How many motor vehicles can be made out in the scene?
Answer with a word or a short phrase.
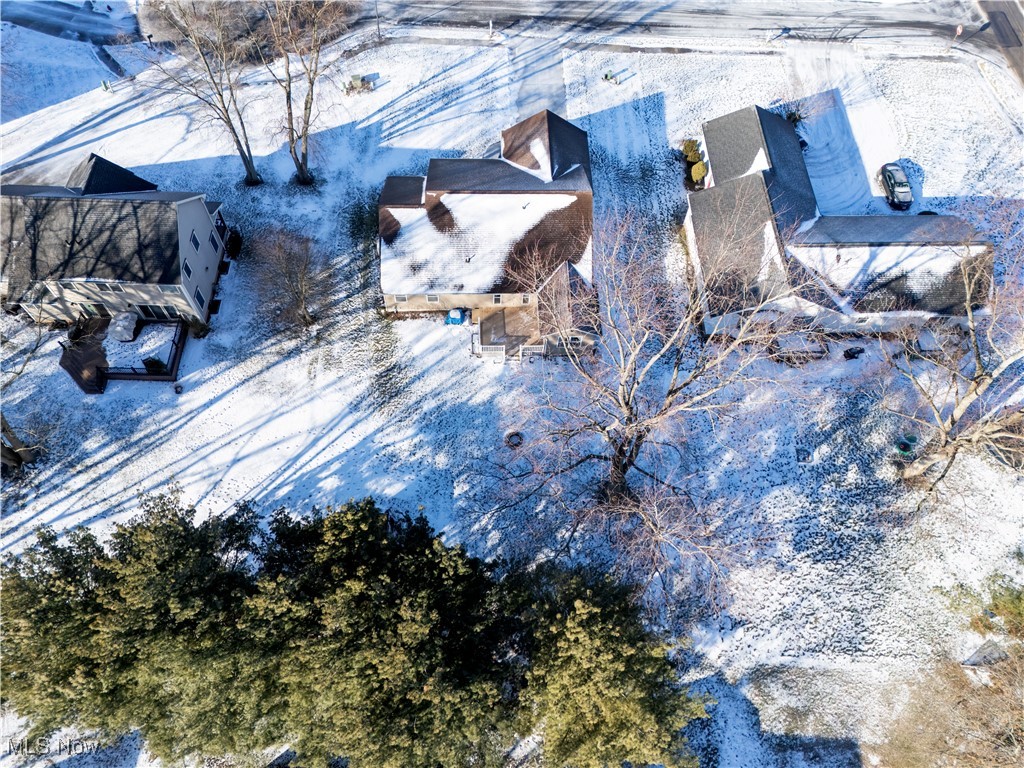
1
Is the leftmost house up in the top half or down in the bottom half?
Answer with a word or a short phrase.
top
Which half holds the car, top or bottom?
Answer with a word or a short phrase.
top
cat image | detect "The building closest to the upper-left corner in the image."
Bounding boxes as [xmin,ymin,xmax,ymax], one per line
[0,157,232,324]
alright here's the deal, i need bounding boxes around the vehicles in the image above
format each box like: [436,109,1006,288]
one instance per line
[877,166,914,210]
